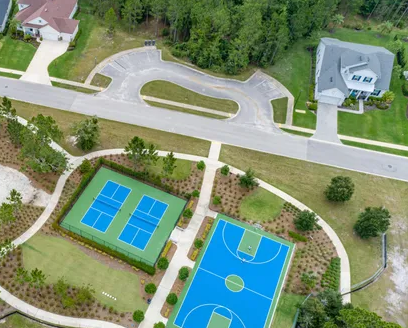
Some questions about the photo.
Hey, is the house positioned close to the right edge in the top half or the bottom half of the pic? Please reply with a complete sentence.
You can find the house positioned close to the right edge in the top half.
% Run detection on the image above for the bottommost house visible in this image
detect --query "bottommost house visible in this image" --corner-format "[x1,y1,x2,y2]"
[317,40,401,107]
